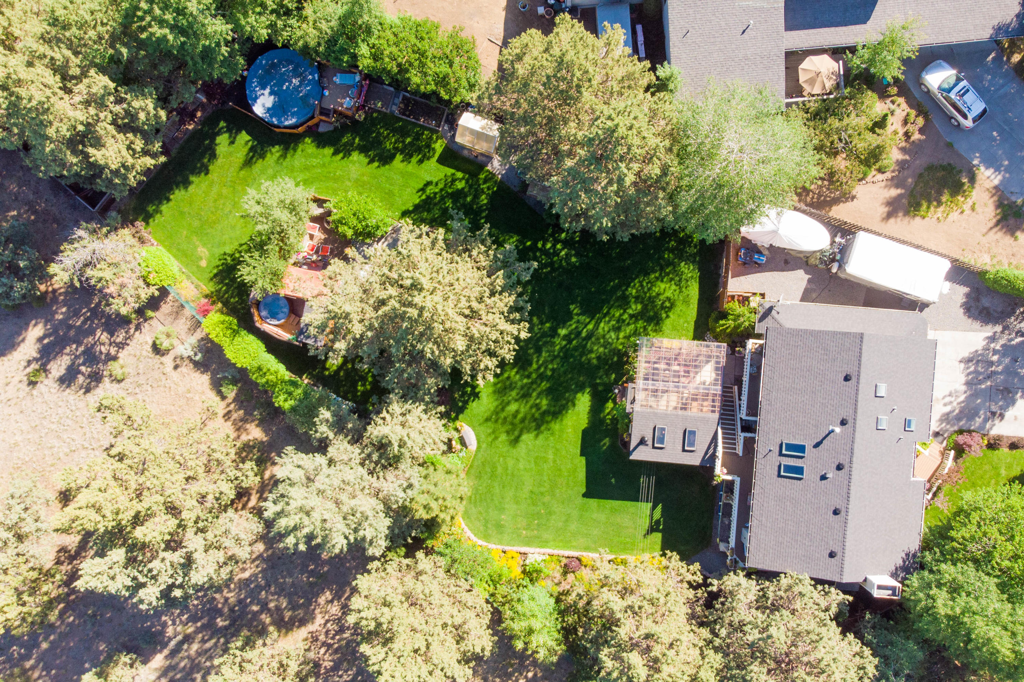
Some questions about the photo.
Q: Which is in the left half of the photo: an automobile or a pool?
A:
pool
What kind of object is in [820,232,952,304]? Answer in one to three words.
trailer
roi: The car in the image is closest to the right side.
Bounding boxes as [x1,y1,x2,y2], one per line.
[925,60,993,131]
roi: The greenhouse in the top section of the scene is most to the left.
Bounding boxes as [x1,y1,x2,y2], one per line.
[455,112,499,160]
